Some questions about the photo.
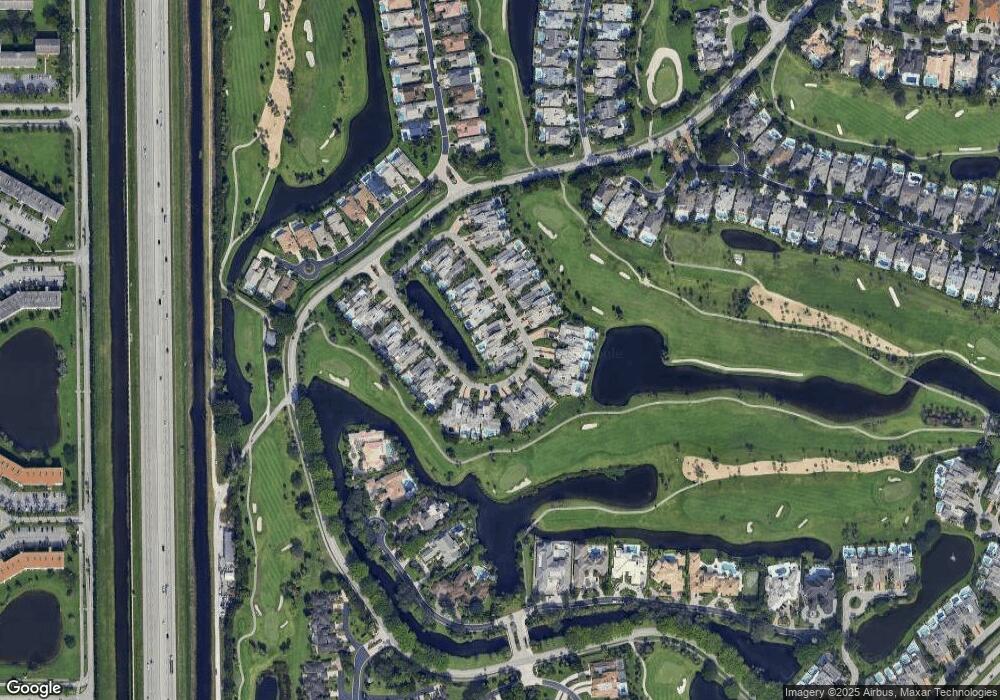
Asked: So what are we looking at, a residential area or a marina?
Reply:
residential area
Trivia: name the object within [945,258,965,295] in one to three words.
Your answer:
house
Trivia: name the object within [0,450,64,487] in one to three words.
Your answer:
building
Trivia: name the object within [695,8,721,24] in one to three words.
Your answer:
house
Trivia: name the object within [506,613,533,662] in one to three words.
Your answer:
bridge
